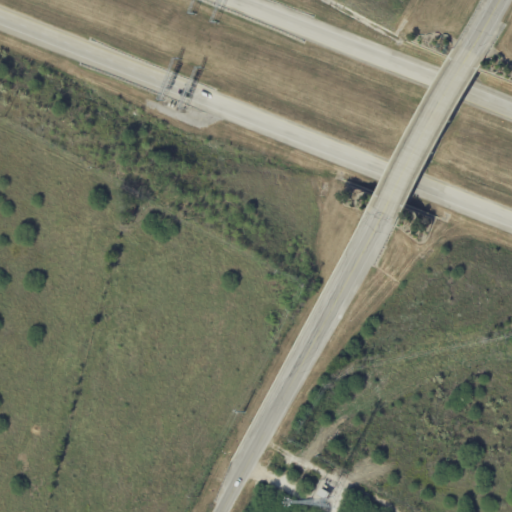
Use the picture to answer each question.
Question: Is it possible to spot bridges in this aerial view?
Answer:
Yes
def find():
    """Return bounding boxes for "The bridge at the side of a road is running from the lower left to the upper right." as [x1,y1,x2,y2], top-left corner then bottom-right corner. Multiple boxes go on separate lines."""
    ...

[373,57,480,208]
